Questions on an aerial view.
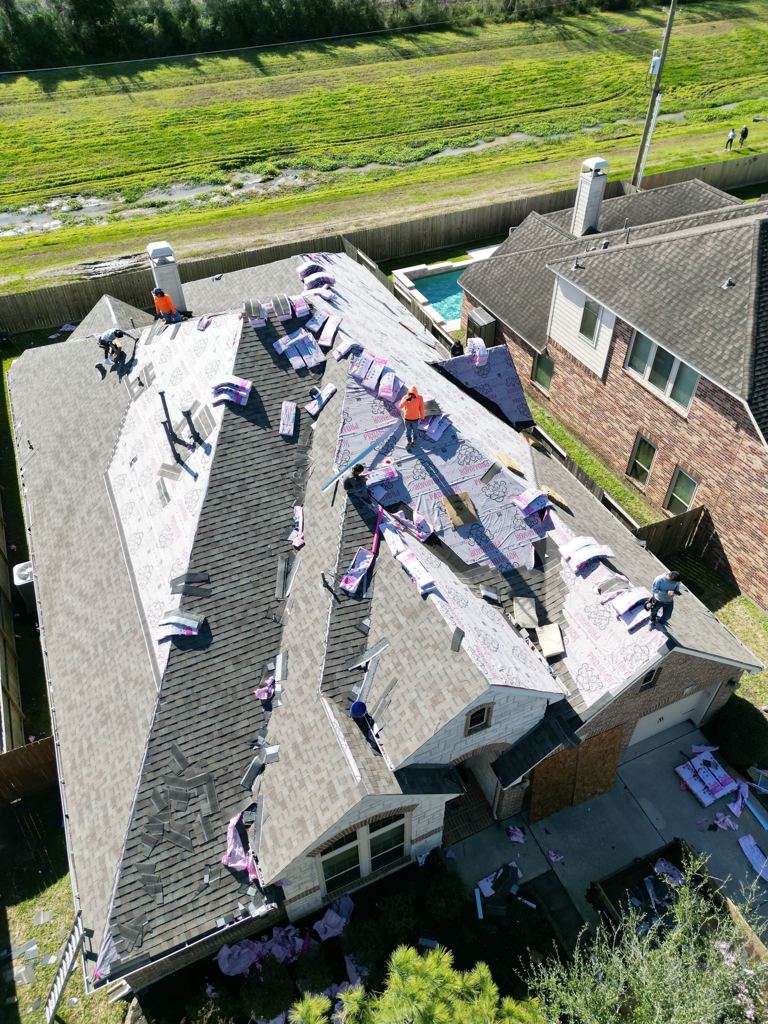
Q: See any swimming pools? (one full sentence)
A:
Yes, the frame does contain a swimming pool.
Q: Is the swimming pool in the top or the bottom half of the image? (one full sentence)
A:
You can find the swimming pool in the top half.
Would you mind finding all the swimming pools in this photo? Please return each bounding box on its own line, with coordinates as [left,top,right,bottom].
[392,242,506,335]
